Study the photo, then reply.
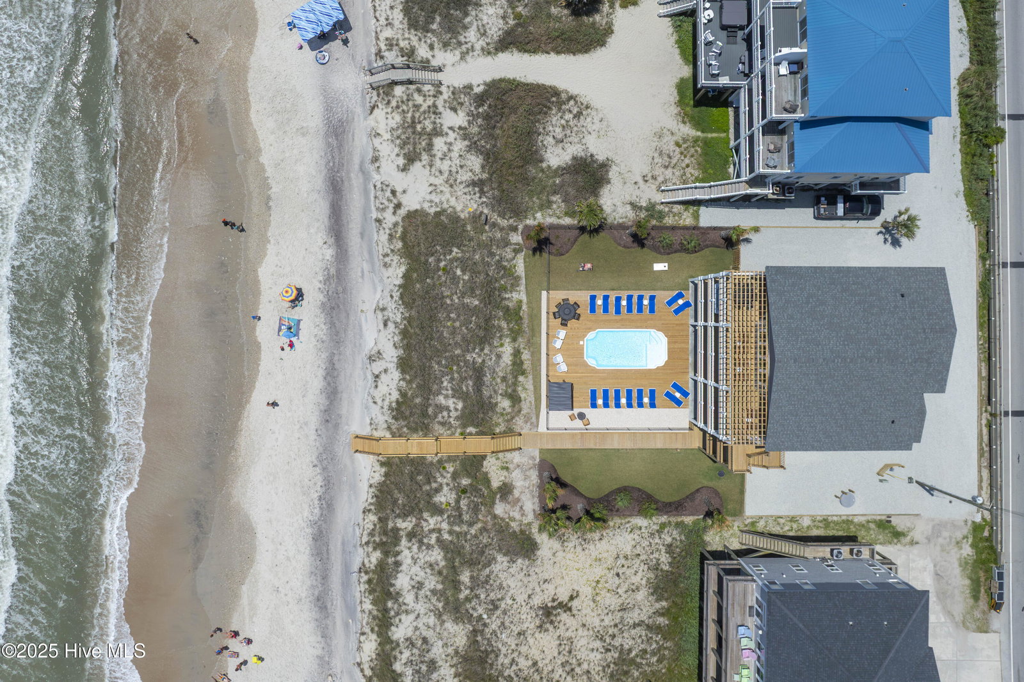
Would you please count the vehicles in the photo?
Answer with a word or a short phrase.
1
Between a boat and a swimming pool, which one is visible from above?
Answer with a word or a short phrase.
swimming pool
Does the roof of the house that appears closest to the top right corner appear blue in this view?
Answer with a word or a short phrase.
Yes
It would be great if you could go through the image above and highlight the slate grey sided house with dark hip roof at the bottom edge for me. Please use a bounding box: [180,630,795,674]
[697,543,940,682]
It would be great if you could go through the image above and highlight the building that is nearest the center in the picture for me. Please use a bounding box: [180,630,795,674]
[548,381,573,411]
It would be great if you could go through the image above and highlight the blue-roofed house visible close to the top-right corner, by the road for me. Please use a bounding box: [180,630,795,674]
[731,0,952,202]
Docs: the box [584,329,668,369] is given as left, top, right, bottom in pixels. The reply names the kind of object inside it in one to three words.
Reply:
swimming pool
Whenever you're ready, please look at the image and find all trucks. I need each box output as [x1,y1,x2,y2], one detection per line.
[814,195,880,218]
